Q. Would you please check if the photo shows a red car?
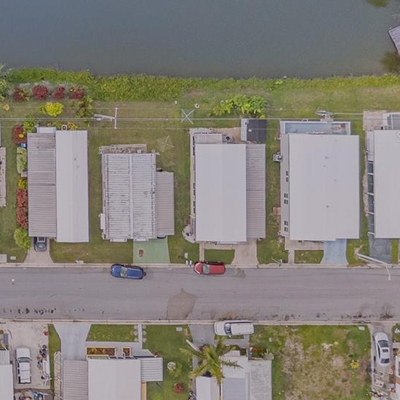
Yes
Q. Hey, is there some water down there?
Yes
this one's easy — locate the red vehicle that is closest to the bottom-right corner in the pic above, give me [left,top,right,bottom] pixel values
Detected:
[193,260,225,276]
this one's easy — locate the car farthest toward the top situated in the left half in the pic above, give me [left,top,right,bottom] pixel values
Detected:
[33,237,48,255]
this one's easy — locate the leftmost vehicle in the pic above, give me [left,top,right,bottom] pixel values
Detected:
[15,346,31,385]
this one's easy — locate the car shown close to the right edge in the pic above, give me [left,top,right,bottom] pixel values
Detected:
[371,331,390,366]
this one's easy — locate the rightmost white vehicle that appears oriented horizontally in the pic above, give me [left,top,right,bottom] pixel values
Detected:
[213,320,253,337]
